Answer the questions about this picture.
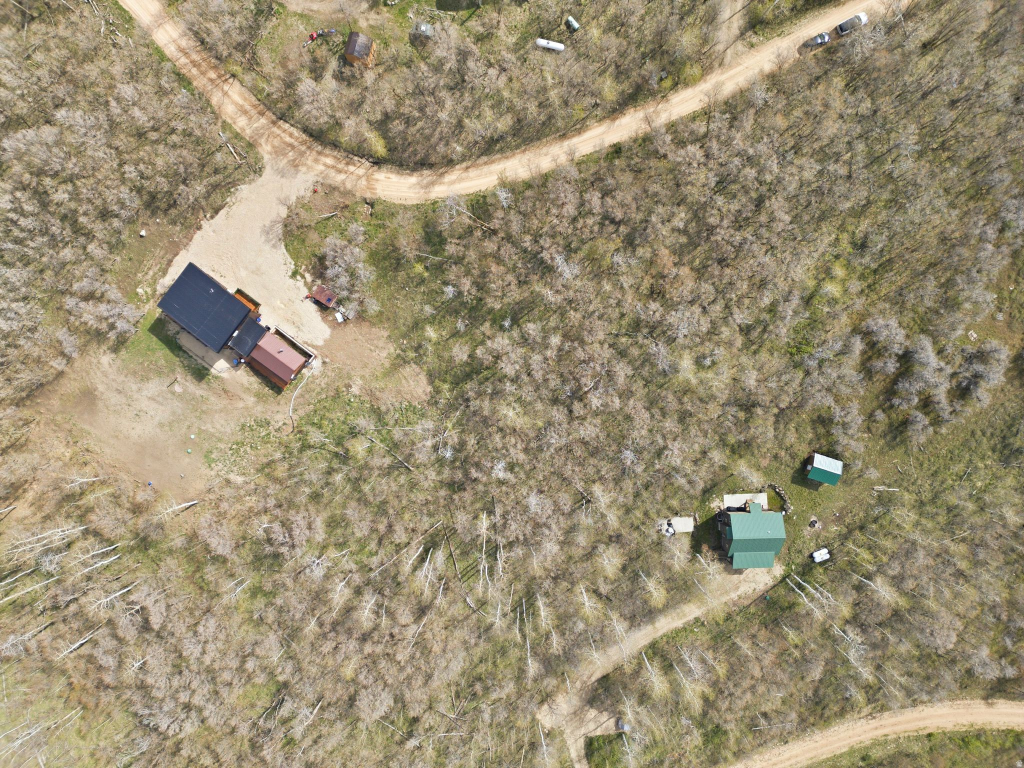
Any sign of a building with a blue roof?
Yes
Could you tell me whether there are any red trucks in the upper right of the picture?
No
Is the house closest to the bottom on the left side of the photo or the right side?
right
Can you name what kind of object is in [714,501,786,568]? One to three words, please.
house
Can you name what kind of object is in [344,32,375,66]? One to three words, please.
shed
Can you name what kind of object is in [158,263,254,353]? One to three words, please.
building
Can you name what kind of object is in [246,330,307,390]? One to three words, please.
building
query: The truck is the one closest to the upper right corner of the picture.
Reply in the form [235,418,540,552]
[833,13,870,37]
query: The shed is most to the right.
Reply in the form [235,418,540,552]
[802,451,843,487]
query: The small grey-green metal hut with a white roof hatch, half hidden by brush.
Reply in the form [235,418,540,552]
[411,22,436,43]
